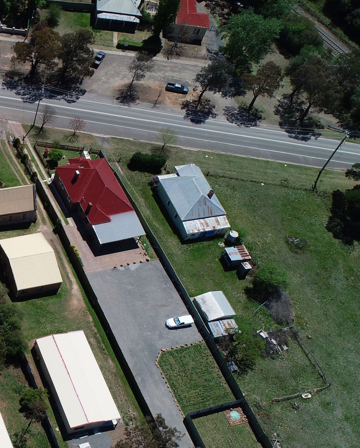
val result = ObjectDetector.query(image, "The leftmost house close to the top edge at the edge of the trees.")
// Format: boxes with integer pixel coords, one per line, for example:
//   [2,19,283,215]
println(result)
[94,0,142,31]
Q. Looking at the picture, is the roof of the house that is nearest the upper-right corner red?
Yes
